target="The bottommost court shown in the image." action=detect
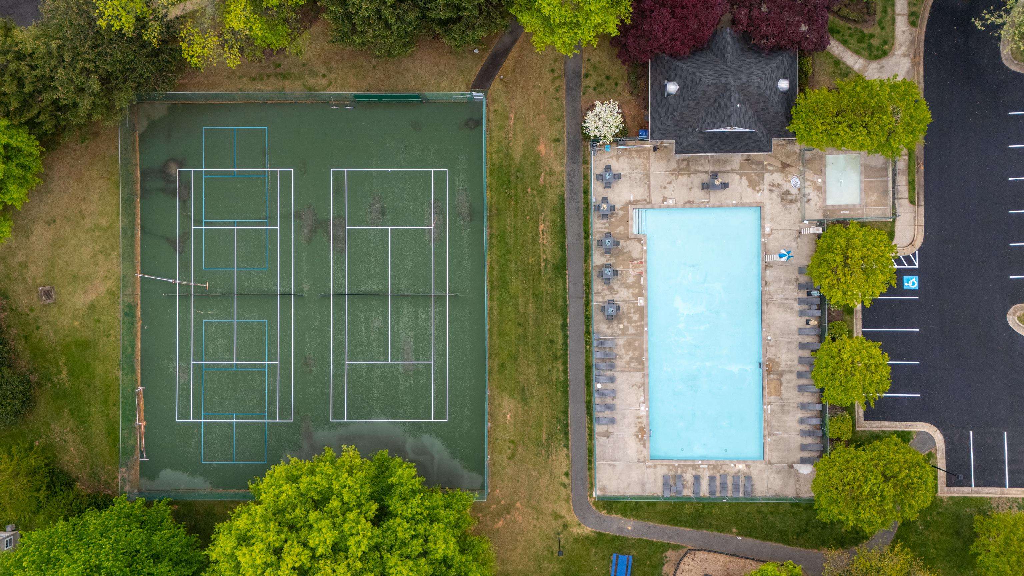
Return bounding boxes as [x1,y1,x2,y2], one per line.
[202,321,267,463]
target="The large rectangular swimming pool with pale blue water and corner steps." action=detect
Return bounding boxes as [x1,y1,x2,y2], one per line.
[630,195,782,469]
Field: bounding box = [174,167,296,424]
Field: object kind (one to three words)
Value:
tennis court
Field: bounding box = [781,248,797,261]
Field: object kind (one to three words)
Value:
umbrella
